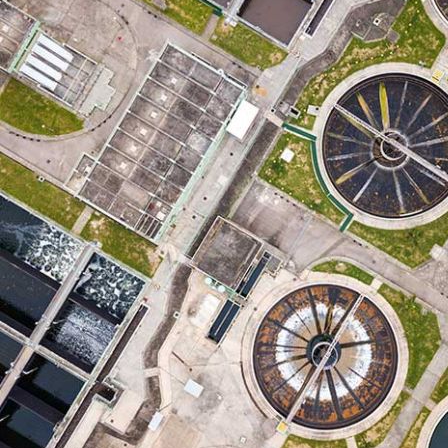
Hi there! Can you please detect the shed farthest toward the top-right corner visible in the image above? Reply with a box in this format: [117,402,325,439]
[226,100,260,140]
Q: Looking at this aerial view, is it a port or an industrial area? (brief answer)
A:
industrial area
